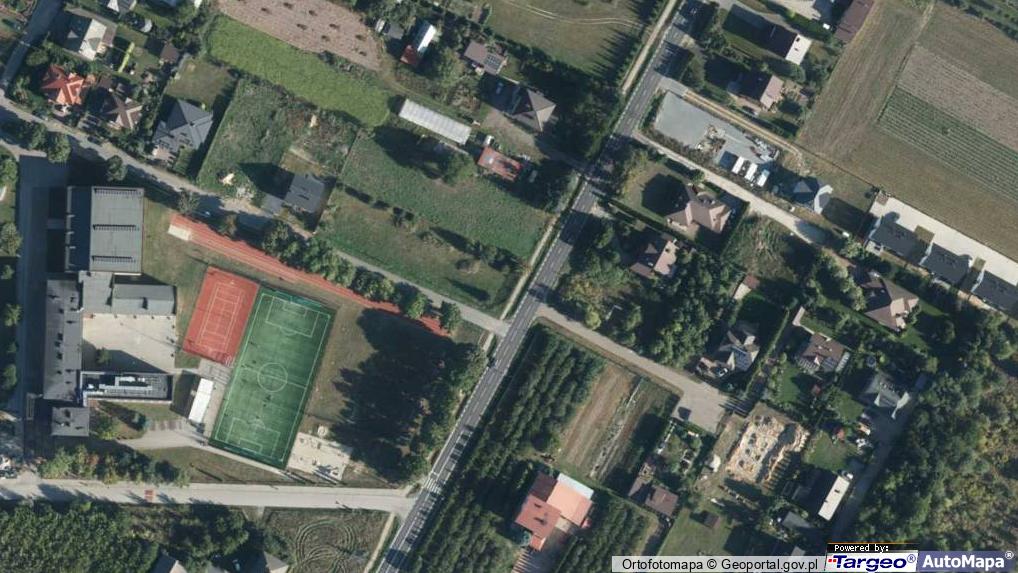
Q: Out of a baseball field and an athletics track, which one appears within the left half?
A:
athletics track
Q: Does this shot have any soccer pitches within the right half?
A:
No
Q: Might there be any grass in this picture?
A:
Yes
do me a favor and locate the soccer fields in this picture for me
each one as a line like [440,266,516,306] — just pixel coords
[209,286,337,468]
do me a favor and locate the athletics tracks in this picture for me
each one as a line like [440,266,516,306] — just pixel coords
[167,214,449,335]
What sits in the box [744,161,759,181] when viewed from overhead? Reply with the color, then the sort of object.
white vehicle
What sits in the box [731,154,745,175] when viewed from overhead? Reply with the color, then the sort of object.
white vehicle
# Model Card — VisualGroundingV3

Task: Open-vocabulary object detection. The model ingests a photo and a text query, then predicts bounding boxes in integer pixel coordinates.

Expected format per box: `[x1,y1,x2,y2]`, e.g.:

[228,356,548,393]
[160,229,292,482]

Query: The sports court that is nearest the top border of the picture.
[183,267,259,366]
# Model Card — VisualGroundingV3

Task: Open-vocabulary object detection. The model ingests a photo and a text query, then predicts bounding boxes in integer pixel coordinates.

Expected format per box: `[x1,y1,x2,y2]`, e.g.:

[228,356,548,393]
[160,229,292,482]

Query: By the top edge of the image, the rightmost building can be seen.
[832,0,876,44]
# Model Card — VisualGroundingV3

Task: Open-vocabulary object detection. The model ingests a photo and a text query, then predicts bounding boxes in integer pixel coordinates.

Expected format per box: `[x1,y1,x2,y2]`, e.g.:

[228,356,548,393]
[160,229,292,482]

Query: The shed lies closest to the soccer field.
[188,378,214,423]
